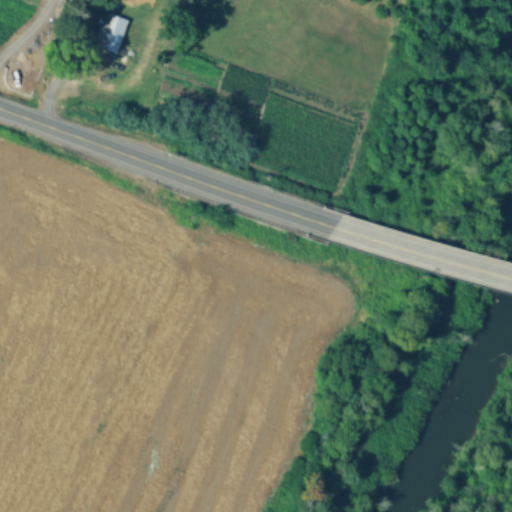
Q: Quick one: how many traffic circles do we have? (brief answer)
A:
0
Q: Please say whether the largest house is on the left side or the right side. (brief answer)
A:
left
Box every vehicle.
[101,72,117,82]
[12,70,22,89]
[112,62,126,71]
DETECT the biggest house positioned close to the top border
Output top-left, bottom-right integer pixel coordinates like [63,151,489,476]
[88,12,130,52]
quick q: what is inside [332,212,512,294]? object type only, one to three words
bridge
